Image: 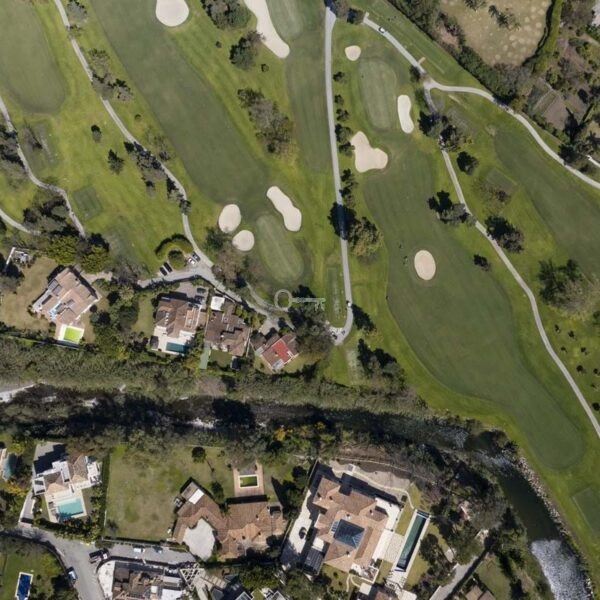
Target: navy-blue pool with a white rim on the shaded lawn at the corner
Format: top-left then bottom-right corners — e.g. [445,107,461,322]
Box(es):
[13,573,33,600]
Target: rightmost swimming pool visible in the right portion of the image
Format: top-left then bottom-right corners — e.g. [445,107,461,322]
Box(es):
[393,510,431,573]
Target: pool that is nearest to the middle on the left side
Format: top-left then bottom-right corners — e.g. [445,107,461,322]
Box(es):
[165,342,187,354]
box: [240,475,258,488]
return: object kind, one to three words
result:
swimming pool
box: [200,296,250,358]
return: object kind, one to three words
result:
house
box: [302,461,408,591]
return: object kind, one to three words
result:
house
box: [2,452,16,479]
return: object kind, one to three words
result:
swimming pool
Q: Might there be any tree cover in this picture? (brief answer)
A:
Yes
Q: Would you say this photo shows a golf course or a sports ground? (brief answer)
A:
golf course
